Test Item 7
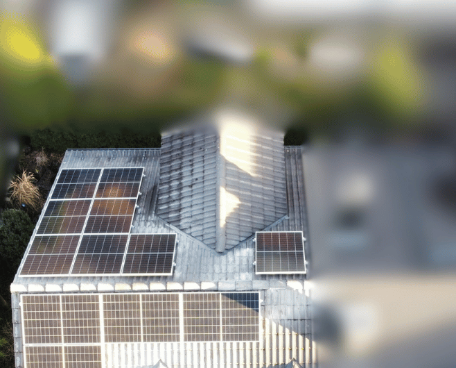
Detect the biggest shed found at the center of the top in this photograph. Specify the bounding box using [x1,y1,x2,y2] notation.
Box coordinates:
[184,17,260,88]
